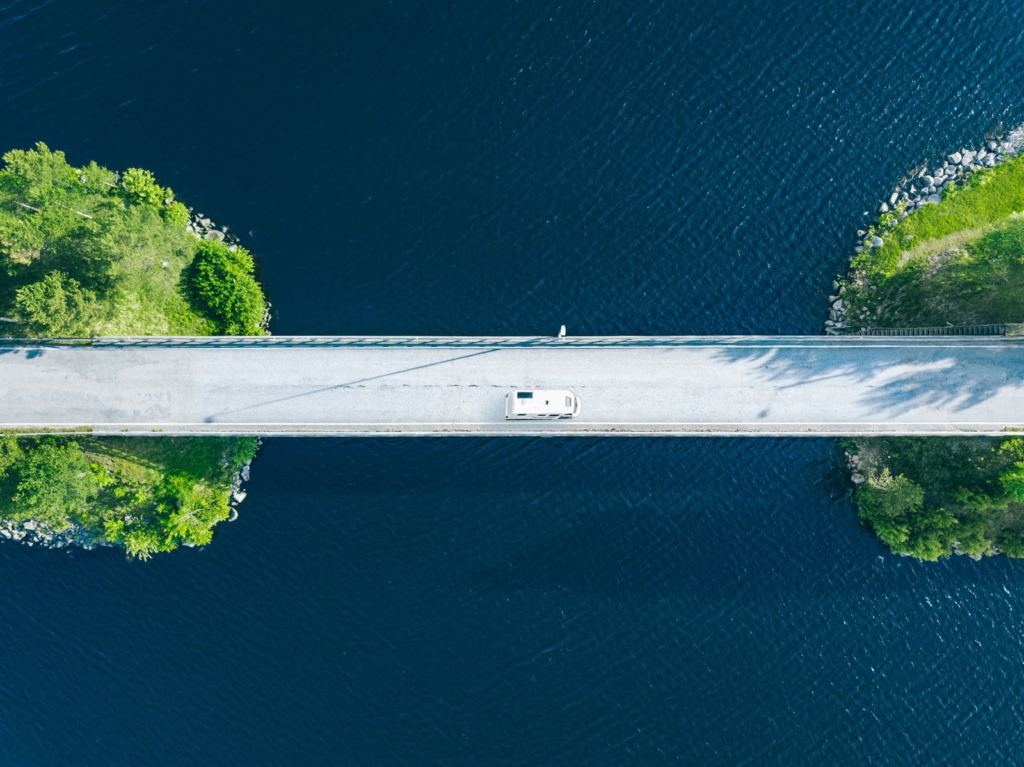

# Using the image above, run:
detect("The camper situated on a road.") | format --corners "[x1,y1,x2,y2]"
[505,389,581,418]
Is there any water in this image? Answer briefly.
Yes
